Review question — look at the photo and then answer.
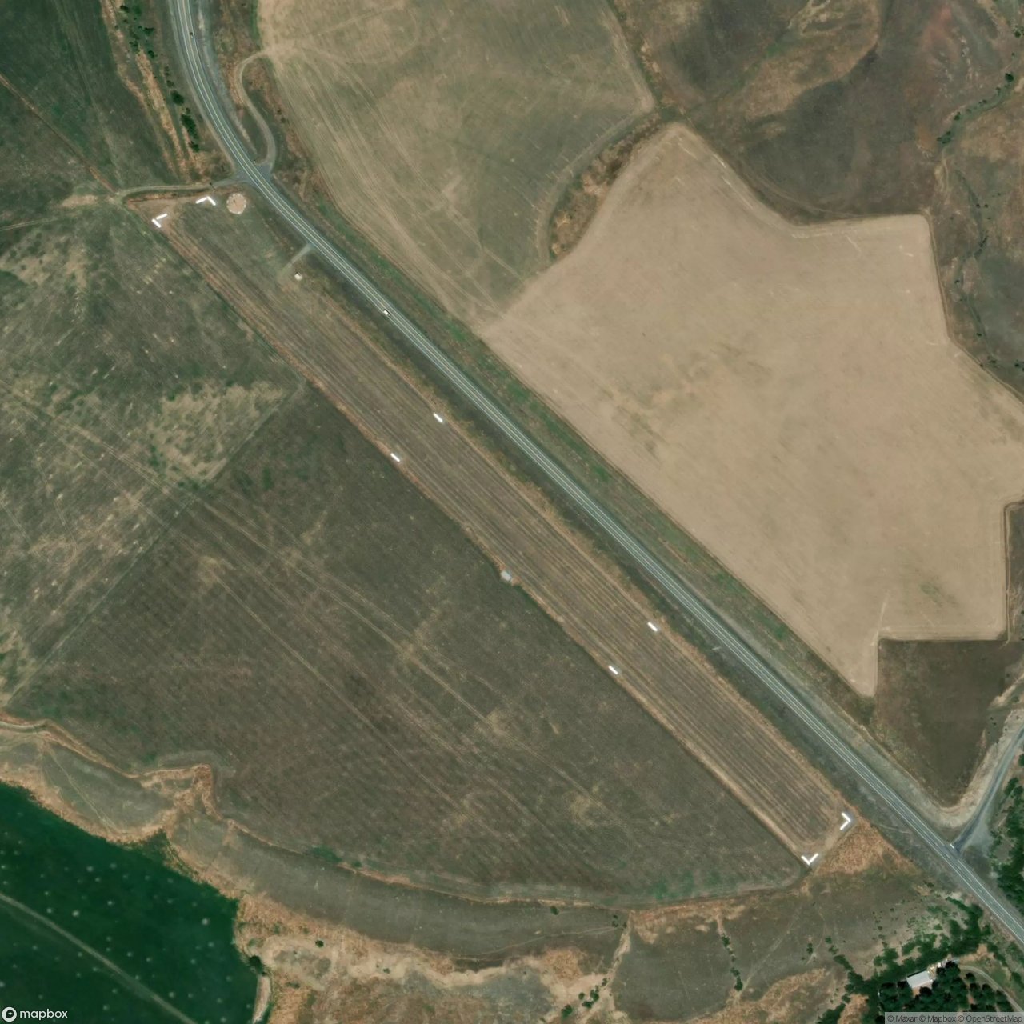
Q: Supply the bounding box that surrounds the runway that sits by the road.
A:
[128,191,856,869]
